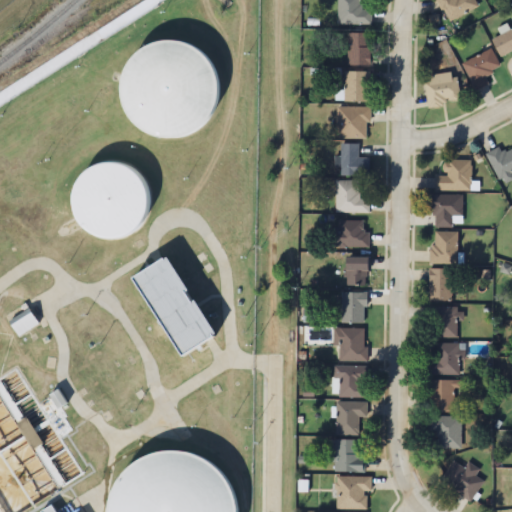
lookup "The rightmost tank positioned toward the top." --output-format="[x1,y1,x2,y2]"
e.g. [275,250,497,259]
[120,38,221,138]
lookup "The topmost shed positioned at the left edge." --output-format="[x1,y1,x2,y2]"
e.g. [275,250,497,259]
[10,308,41,337]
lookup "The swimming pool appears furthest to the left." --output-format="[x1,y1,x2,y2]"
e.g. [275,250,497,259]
[304,326,334,346]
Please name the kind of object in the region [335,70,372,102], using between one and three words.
house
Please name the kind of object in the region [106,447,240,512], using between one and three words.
storage tank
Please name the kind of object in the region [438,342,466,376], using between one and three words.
house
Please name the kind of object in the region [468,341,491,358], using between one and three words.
swimming pool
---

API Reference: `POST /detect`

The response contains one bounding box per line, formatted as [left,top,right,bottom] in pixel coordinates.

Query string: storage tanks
[71,160,152,240]
[106,447,240,512]
[120,38,221,138]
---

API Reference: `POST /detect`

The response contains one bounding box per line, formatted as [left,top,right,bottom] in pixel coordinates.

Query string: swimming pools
[304,326,334,346]
[468,341,491,358]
